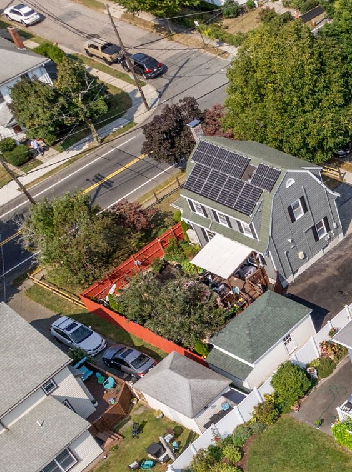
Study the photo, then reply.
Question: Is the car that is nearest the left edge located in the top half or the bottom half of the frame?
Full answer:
It is in the top half that the car that is nearest the left edge appears.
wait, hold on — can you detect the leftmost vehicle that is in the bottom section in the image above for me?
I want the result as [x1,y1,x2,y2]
[47,313,108,356]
